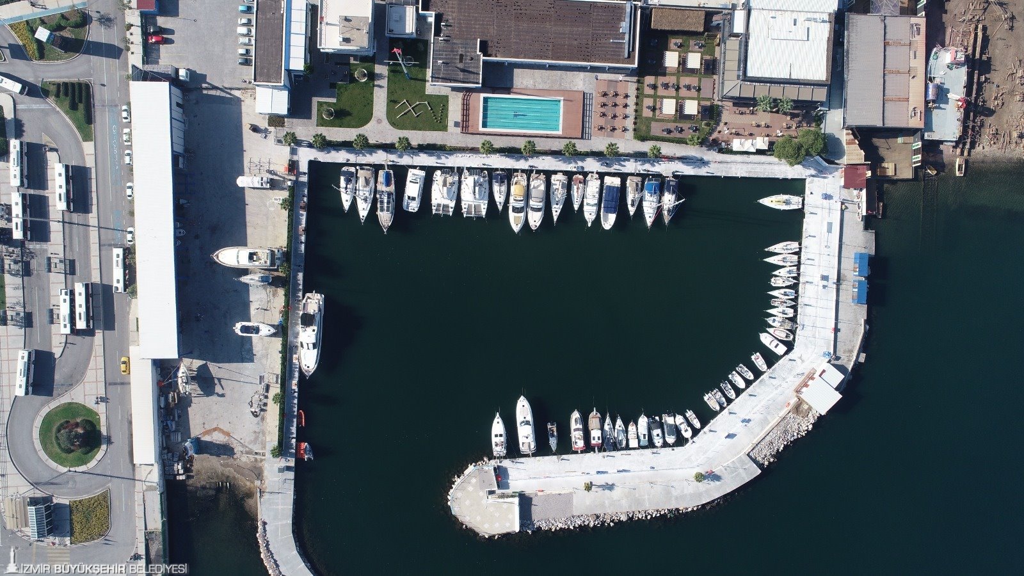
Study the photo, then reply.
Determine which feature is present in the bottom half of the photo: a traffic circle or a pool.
traffic circle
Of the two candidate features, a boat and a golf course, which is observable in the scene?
boat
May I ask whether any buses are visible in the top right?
No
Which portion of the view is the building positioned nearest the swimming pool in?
top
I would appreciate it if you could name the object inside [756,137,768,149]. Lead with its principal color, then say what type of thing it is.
white umbrella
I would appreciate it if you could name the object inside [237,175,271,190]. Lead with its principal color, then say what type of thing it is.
white boat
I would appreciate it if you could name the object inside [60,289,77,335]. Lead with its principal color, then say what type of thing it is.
white vehicle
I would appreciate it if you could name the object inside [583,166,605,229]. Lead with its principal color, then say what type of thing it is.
white boat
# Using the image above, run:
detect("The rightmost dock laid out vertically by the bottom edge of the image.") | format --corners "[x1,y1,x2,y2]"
[258,455,316,576]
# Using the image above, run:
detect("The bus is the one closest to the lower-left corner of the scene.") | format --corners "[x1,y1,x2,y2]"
[15,349,36,395]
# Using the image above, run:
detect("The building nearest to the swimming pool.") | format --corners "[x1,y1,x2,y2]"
[420,0,641,90]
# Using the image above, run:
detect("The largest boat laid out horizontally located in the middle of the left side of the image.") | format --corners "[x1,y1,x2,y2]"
[210,245,282,270]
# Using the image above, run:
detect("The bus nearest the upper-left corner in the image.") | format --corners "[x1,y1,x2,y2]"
[0,71,32,95]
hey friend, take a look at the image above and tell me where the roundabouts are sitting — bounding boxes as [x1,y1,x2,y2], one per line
[40,402,101,468]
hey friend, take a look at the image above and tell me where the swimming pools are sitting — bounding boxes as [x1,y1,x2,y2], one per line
[460,89,584,139]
